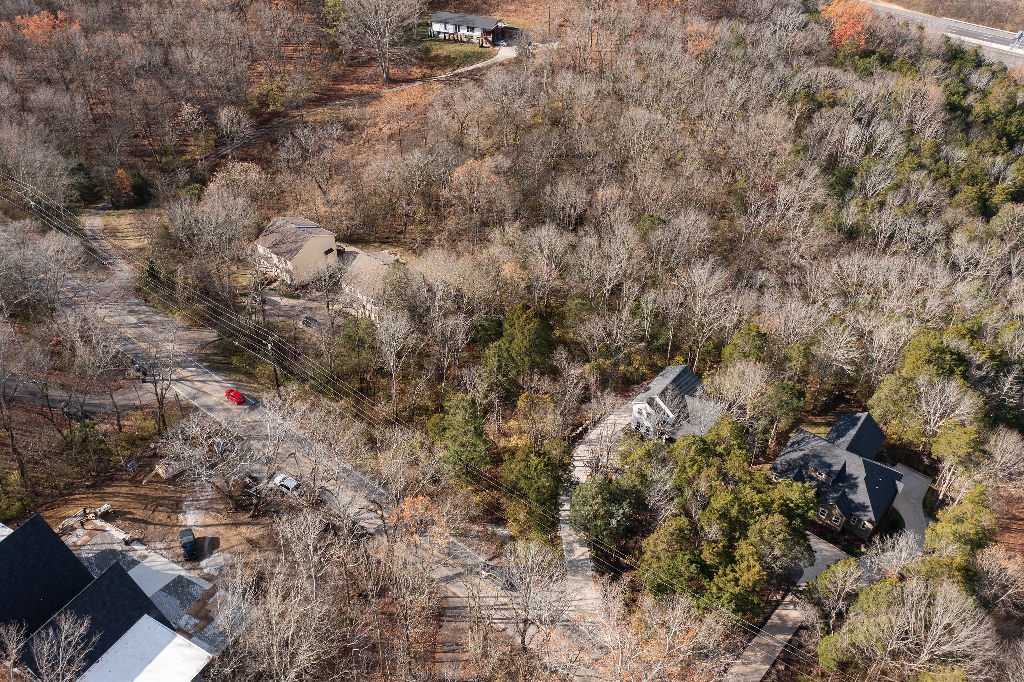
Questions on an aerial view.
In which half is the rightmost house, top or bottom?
bottom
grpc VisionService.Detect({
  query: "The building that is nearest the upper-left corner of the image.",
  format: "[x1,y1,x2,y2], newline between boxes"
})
[250,218,348,290]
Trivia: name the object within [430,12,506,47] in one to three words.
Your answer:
house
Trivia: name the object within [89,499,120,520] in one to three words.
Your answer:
work vehicle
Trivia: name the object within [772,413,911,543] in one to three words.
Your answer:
house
